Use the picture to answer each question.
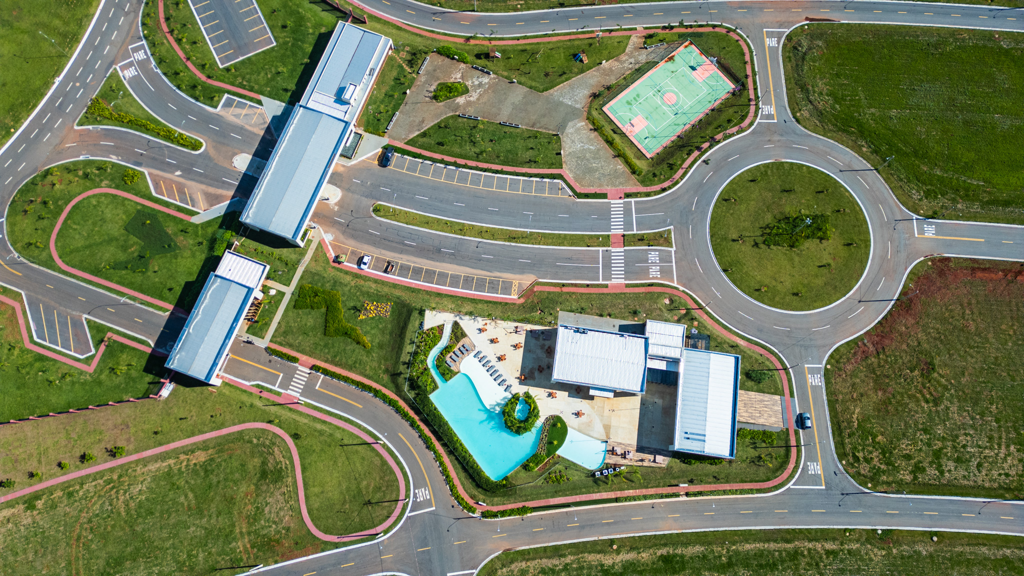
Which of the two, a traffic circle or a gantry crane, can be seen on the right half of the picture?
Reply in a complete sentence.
You can see a traffic circle on the right half of the picture.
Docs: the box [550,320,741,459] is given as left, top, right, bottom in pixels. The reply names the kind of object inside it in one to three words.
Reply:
building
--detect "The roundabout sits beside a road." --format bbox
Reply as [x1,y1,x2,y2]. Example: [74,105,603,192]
[670,121,910,349]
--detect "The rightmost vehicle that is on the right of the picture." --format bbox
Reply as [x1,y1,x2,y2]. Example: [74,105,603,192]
[799,412,811,430]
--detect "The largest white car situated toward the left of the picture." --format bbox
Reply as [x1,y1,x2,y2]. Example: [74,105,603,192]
[360,253,372,269]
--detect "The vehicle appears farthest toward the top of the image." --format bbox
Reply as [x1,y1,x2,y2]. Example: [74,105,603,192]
[382,147,397,166]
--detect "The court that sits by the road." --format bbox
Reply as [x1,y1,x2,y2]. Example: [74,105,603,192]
[602,31,740,158]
